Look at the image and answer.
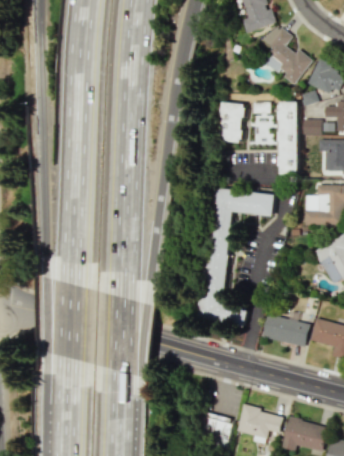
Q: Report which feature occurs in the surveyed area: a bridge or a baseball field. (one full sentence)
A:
Of the two, only a bridge appears.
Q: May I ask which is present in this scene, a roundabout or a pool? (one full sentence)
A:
The one in the frame is a pool.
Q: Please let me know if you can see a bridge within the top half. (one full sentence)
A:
No, I see no bridge within the top half.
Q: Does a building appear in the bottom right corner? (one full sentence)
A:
Yes, I can see a building in the bottom right corner.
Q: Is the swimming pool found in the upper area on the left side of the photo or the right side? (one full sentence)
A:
It is on the right.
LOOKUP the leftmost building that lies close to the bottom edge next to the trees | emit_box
[208,417,232,445]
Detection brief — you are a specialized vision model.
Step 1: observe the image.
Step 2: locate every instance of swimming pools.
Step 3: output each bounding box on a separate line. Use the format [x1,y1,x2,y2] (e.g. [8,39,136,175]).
[314,274,344,294]
[248,60,277,83]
